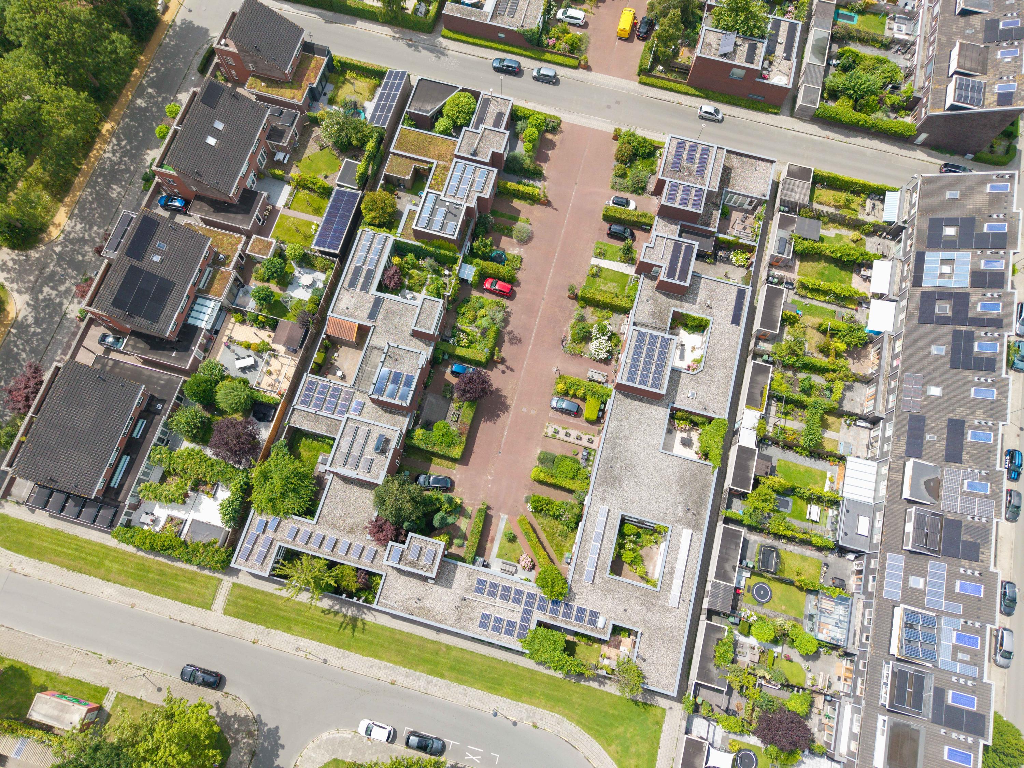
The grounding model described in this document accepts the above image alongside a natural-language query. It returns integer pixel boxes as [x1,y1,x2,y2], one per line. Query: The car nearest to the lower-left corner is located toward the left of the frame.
[179,665,222,690]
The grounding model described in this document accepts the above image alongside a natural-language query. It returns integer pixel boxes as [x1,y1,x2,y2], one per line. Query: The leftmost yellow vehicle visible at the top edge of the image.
[618,10,635,36]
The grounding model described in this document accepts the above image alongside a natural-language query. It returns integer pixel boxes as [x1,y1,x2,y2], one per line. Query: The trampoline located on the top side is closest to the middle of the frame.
[490,244,507,265]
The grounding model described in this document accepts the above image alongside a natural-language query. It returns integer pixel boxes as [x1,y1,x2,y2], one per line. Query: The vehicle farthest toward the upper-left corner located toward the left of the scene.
[155,193,189,212]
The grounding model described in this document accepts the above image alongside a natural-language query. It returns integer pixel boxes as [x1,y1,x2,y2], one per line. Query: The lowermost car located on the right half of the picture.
[993,626,1018,670]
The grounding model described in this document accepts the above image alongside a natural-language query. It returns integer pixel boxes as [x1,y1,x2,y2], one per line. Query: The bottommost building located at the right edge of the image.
[822,700,984,768]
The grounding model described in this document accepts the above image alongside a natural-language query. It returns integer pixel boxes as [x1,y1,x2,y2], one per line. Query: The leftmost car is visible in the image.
[94,332,125,351]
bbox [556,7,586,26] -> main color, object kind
white car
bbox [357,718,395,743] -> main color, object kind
white car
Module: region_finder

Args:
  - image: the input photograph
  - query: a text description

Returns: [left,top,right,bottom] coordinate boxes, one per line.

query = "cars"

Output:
[637,16,653,39]
[1013,340,1024,371]
[532,67,558,85]
[556,7,586,26]
[1006,450,1024,479]
[415,472,453,491]
[1001,580,1021,616]
[155,193,189,212]
[403,731,445,756]
[939,161,973,173]
[698,104,723,122]
[609,194,637,212]
[606,223,636,242]
[179,665,222,690]
[449,361,478,375]
[357,718,395,743]
[94,332,125,351]
[492,56,522,75]
[993,626,1018,670]
[549,396,582,416]
[1006,488,1024,523]
[481,277,516,298]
